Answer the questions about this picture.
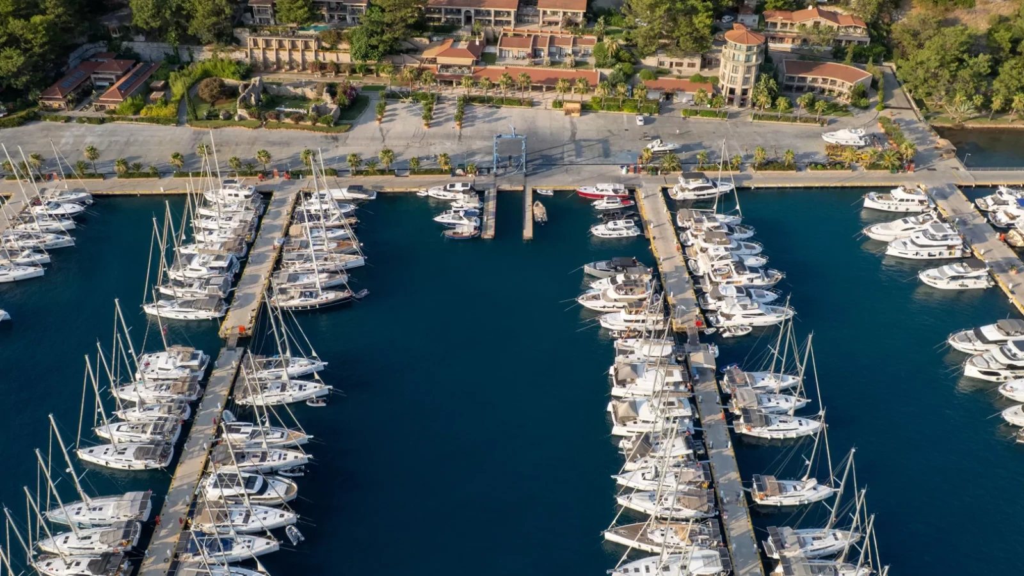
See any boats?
Yes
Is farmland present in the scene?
No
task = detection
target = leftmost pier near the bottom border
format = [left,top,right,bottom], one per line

[135,346,246,576]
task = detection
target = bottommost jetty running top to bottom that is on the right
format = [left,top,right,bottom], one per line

[683,344,769,576]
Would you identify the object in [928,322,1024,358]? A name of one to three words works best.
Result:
boat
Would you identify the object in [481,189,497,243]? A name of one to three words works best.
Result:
pier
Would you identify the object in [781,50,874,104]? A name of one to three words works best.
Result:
building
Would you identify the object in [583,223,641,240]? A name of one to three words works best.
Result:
boat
